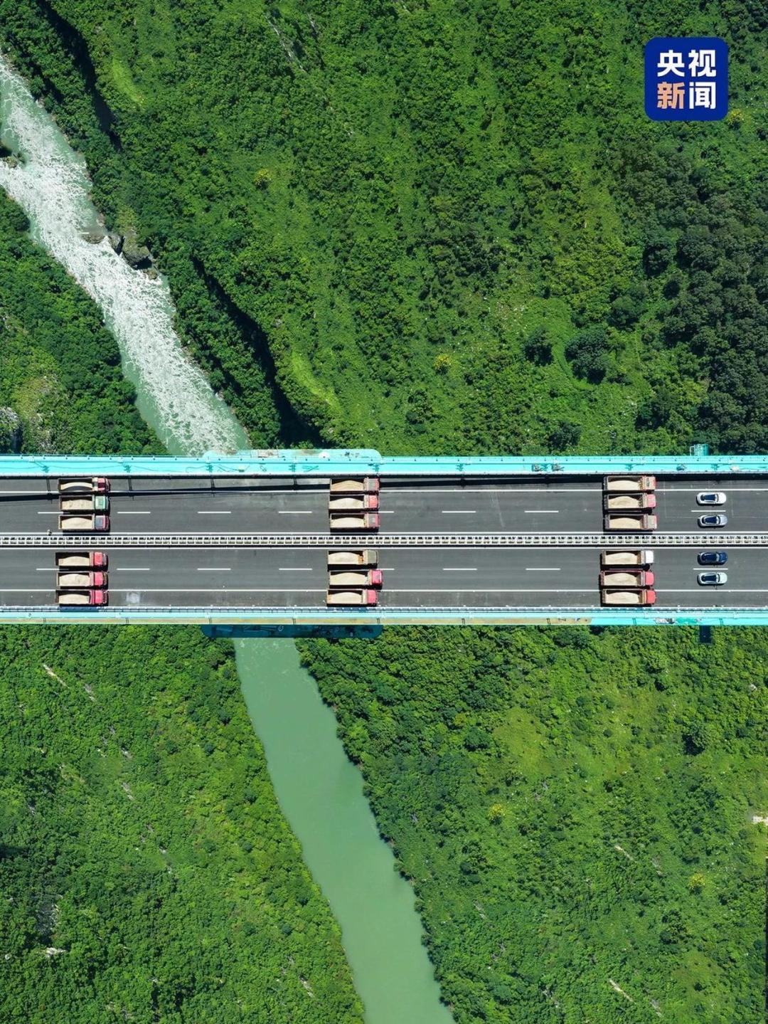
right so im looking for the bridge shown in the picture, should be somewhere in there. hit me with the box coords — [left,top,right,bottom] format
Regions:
[0,449,768,637]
